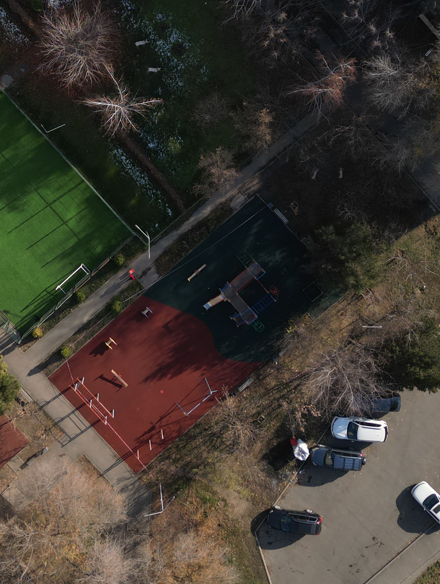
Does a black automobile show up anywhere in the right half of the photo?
Yes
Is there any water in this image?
No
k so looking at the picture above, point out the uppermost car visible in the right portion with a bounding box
[348,390,404,416]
